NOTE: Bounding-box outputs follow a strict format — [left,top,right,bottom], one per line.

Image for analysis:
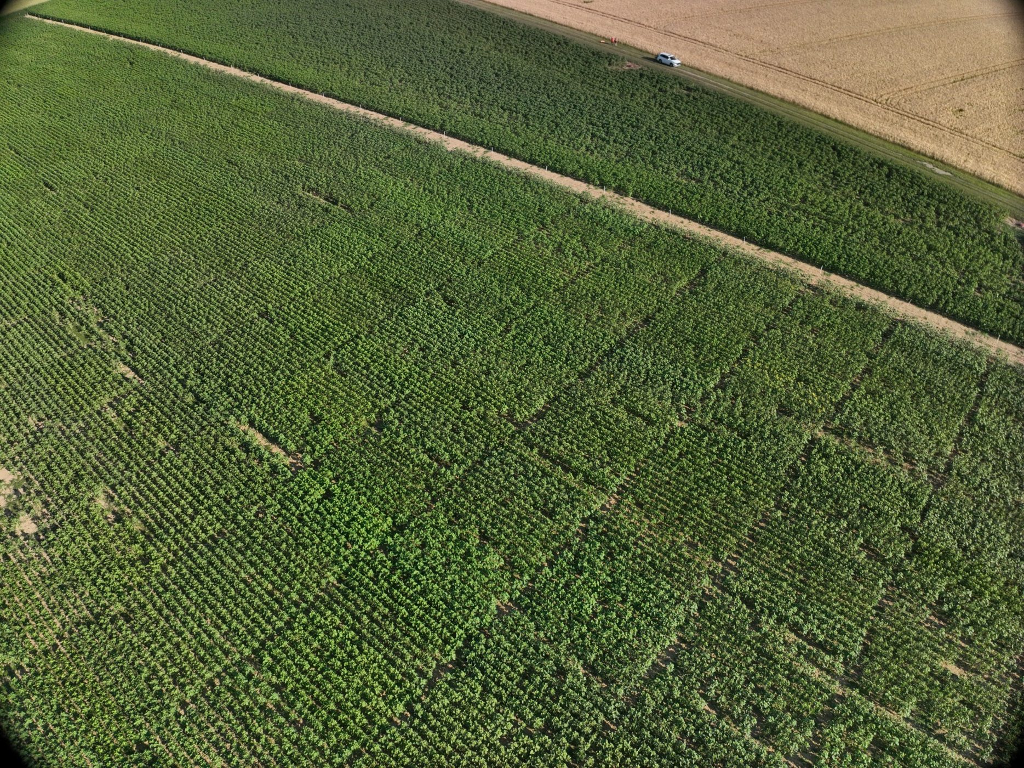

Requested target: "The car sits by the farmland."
[658,52,682,67]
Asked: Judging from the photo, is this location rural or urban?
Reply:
rural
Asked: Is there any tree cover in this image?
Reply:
No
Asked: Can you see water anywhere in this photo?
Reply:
No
